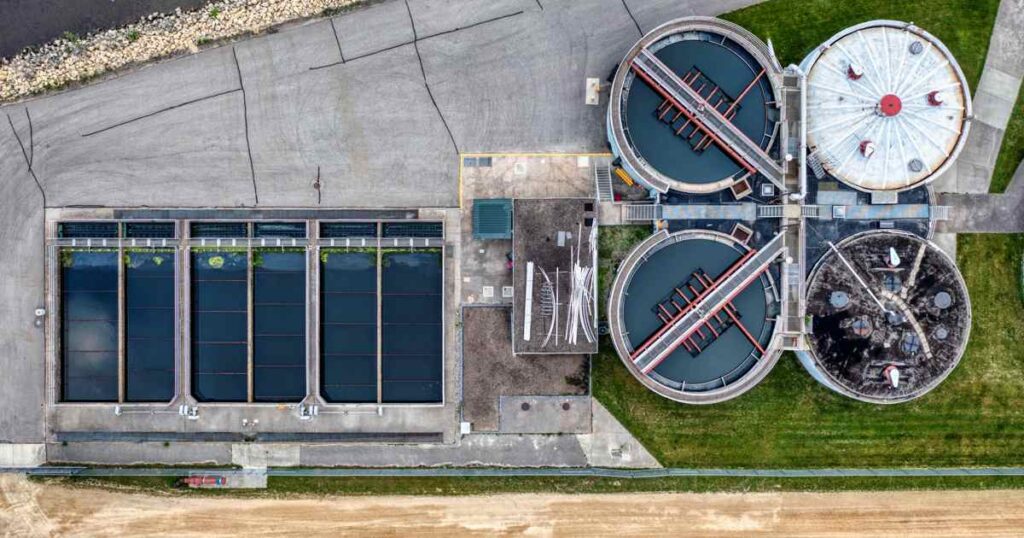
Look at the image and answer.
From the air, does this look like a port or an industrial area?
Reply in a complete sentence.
This image shows an industrial area.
